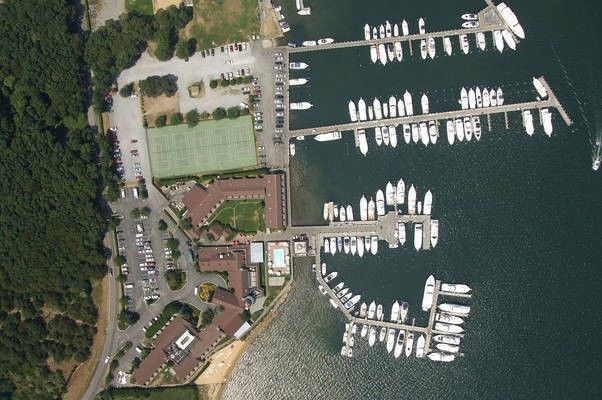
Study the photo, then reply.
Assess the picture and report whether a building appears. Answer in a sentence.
Yes, the picture does show a building.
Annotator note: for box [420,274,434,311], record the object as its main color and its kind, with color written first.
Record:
white boat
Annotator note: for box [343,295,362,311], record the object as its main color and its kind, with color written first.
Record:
white boat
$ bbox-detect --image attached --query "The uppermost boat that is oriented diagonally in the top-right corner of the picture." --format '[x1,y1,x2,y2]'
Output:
[497,1,526,38]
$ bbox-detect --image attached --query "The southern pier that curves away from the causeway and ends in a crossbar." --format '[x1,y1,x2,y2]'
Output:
[315,236,471,357]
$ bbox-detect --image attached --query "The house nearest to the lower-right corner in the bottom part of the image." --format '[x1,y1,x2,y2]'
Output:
[293,238,316,257]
